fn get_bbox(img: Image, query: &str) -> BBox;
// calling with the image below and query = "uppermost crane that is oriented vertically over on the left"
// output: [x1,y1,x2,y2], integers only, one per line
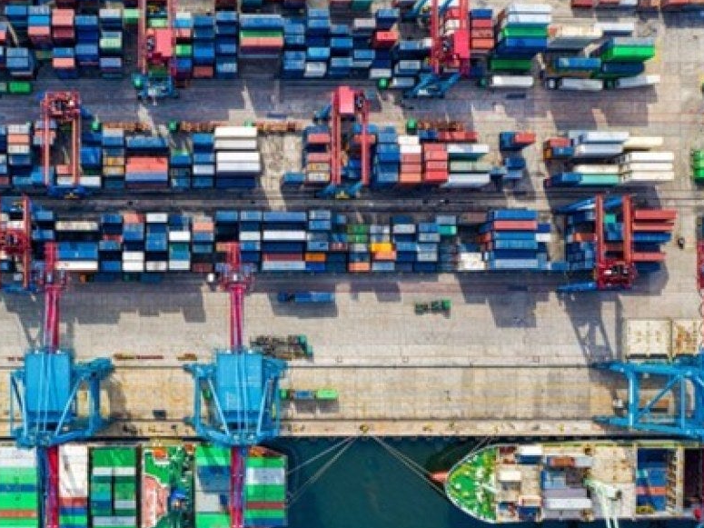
[136,0,180,99]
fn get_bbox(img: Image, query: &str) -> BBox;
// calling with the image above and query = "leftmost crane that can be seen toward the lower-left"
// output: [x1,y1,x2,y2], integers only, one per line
[10,242,114,528]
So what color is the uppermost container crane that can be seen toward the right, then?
red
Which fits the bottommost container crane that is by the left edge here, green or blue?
blue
